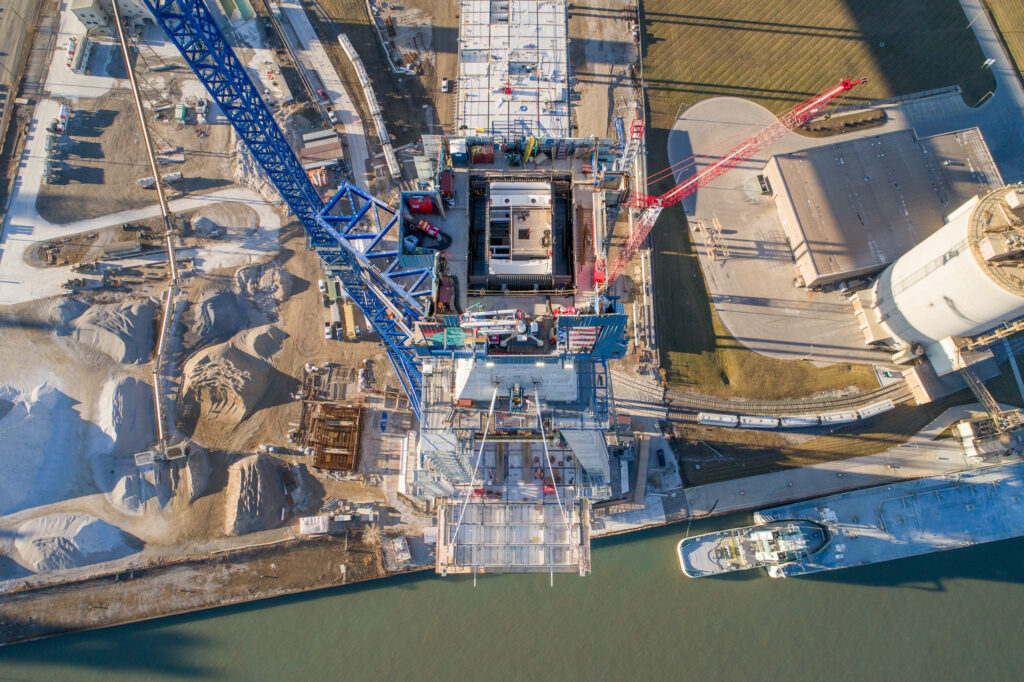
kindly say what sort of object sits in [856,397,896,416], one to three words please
rail car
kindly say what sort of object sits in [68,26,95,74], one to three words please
building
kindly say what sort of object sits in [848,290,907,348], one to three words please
house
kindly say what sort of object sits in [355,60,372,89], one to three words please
rail car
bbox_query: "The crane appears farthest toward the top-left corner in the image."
[136,0,433,418]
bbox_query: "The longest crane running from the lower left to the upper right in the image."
[600,74,870,312]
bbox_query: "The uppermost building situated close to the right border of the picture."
[764,126,1002,285]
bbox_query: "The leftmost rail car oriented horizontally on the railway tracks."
[695,412,738,426]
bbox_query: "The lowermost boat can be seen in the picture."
[676,524,822,578]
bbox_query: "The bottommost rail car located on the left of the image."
[386,145,403,180]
